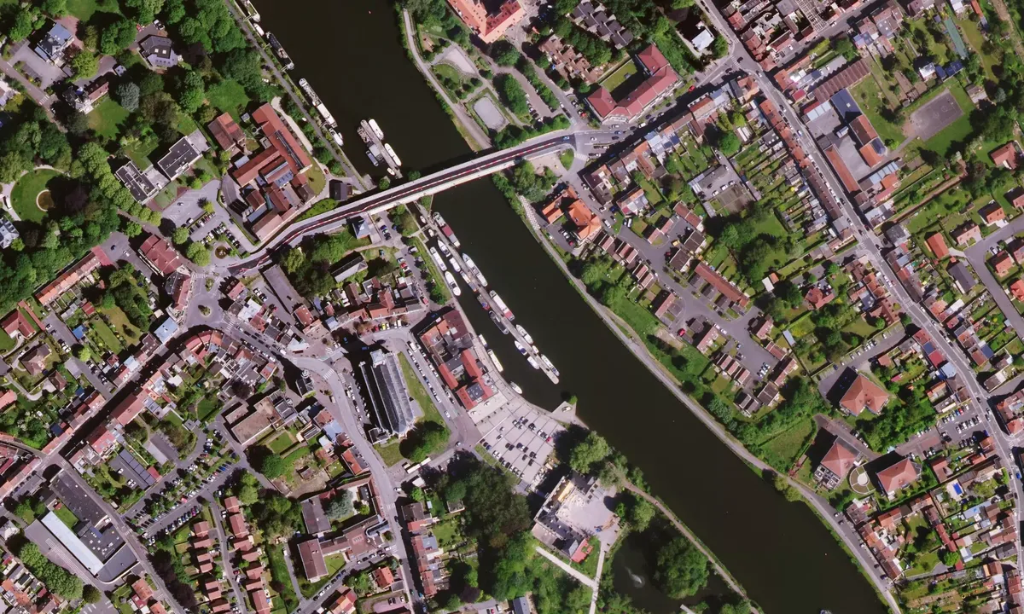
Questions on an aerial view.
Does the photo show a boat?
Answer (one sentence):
Yes, there is a boat in the image.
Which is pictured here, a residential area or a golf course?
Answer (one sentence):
The picture captures a residential area.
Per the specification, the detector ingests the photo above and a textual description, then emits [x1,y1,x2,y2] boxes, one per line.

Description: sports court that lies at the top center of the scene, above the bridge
[474,96,506,130]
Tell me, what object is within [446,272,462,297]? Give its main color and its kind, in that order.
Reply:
white boat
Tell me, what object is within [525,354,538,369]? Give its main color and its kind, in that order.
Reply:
white boat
